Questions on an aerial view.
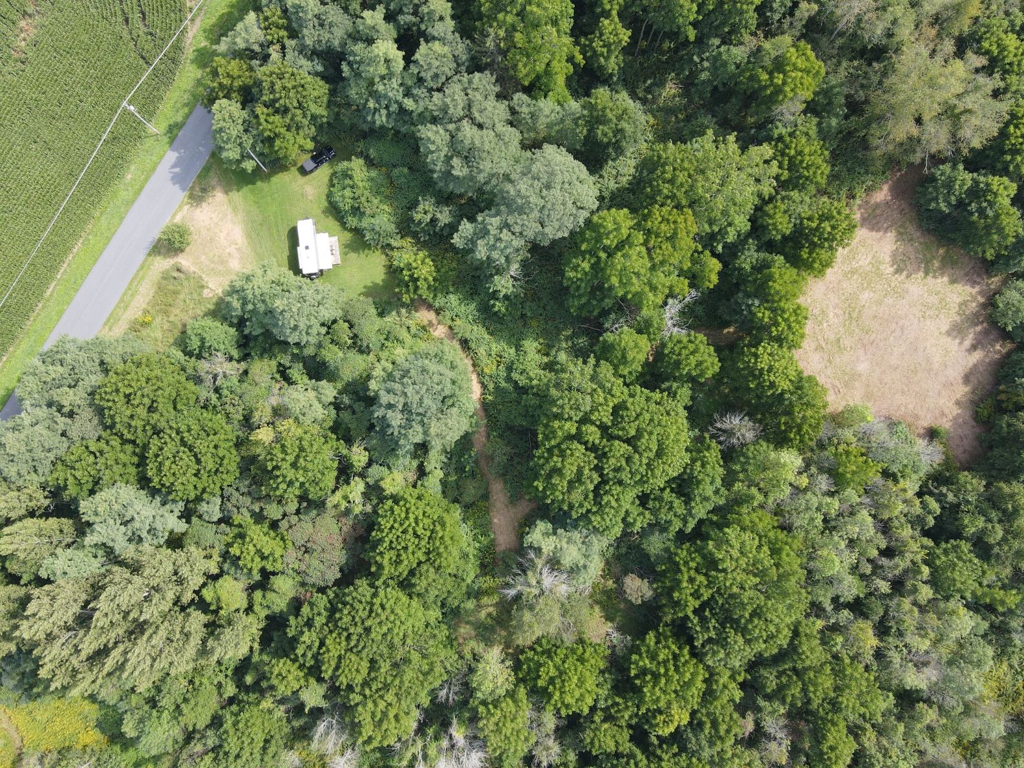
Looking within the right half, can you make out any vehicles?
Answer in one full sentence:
No, I see no vehicle within the right half.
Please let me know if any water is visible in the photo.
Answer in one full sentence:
No, water can't be seen anywhere here.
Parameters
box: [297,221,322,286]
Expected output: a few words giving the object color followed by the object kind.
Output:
white trailer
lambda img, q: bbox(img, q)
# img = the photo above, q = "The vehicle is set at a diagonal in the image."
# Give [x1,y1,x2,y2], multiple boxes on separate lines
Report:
[302,146,337,175]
